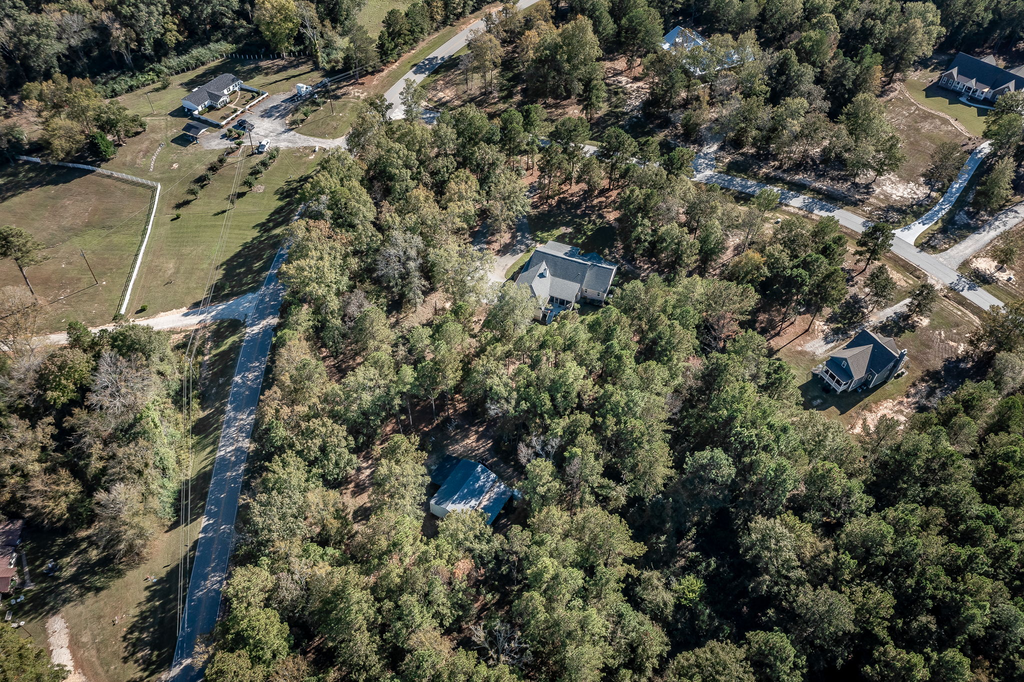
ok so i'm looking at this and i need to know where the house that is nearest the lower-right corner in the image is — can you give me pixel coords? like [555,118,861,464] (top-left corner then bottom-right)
[808,324,913,392]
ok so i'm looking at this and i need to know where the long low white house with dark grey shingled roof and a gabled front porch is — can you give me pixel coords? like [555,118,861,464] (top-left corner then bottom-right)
[177,73,241,114]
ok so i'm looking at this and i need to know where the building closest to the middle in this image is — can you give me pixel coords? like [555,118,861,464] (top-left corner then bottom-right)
[508,240,619,316]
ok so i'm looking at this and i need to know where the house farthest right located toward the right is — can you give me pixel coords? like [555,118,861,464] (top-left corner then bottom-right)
[938,54,1024,109]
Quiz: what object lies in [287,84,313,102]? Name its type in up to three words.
vehicle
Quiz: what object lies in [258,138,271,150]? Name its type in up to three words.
vehicle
